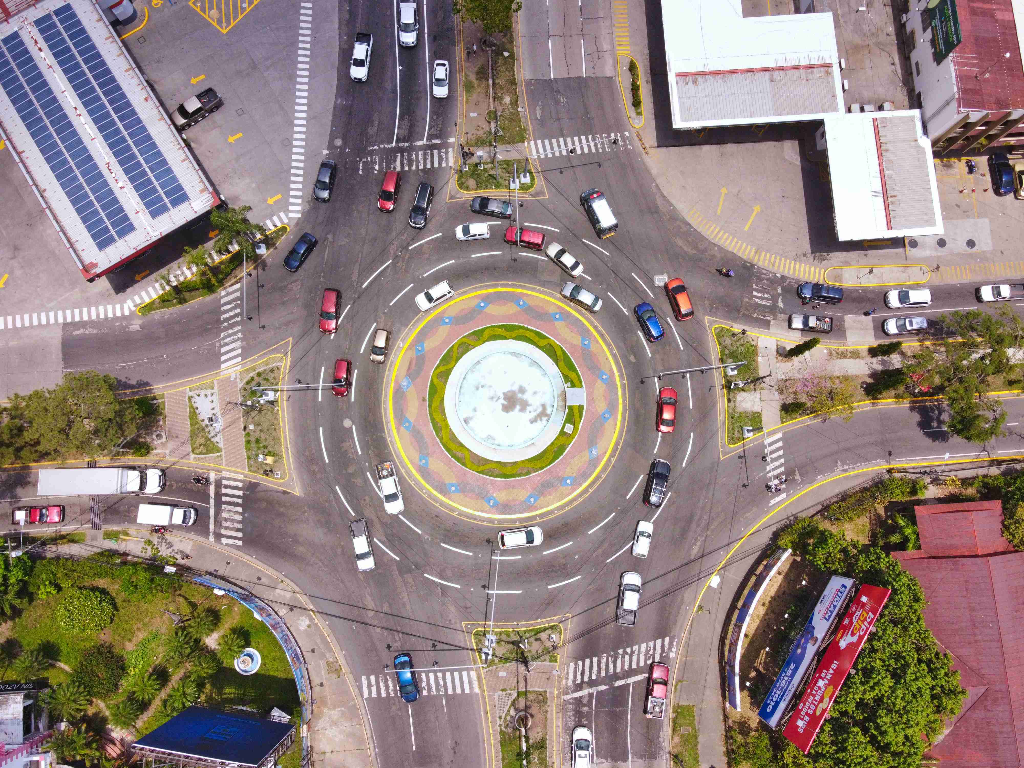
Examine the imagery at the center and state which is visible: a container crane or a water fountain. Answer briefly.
water fountain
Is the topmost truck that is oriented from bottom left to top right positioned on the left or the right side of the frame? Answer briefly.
left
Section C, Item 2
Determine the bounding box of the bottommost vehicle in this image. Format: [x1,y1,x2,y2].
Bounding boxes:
[571,725,593,768]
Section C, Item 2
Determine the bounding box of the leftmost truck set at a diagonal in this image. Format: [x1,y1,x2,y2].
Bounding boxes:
[172,87,225,129]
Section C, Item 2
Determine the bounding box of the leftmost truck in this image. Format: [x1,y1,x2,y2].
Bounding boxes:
[10,504,68,525]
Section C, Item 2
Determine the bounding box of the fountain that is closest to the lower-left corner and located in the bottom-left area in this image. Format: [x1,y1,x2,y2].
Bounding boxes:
[232,648,261,678]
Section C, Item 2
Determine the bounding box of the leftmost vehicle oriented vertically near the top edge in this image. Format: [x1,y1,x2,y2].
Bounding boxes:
[349,31,373,84]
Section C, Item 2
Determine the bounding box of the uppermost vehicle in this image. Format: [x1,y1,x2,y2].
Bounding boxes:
[398,0,418,44]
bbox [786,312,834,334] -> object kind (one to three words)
truck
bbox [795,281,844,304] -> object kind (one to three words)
car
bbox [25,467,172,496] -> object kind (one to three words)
truck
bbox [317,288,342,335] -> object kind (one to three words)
car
